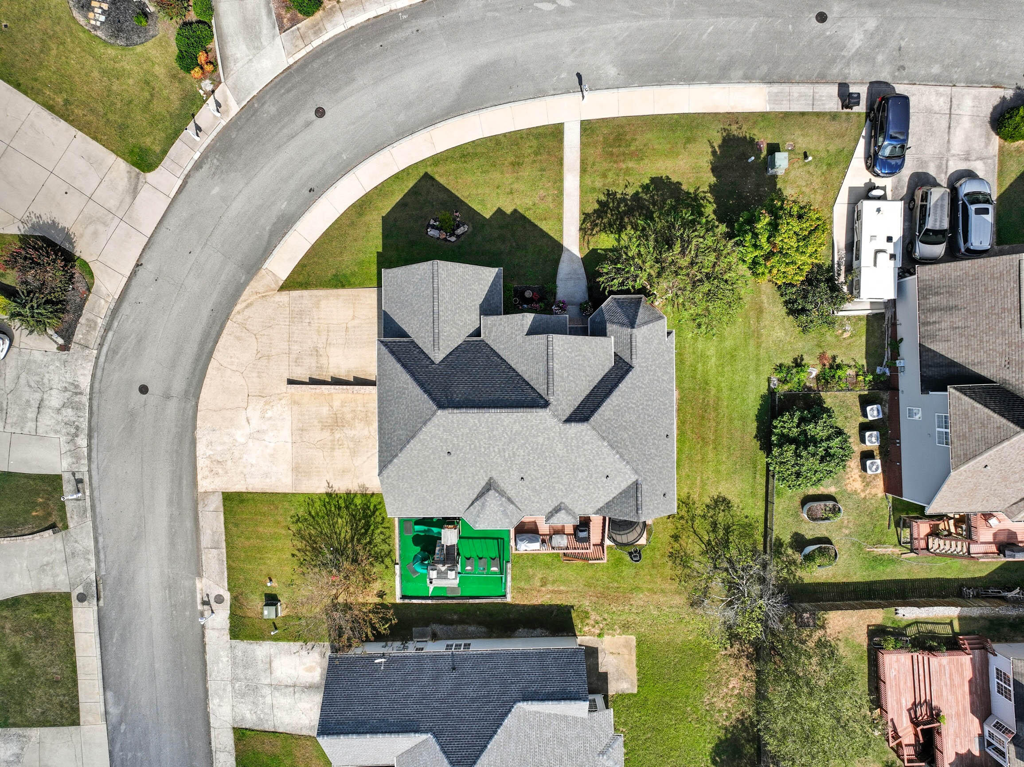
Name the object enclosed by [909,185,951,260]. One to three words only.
car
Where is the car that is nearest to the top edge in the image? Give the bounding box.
[872,93,914,175]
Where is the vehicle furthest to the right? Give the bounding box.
[952,180,993,254]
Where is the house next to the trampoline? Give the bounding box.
[375,258,676,531]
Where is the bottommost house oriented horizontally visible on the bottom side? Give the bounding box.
[313,638,625,767]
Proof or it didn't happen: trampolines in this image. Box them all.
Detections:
[608,518,653,564]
